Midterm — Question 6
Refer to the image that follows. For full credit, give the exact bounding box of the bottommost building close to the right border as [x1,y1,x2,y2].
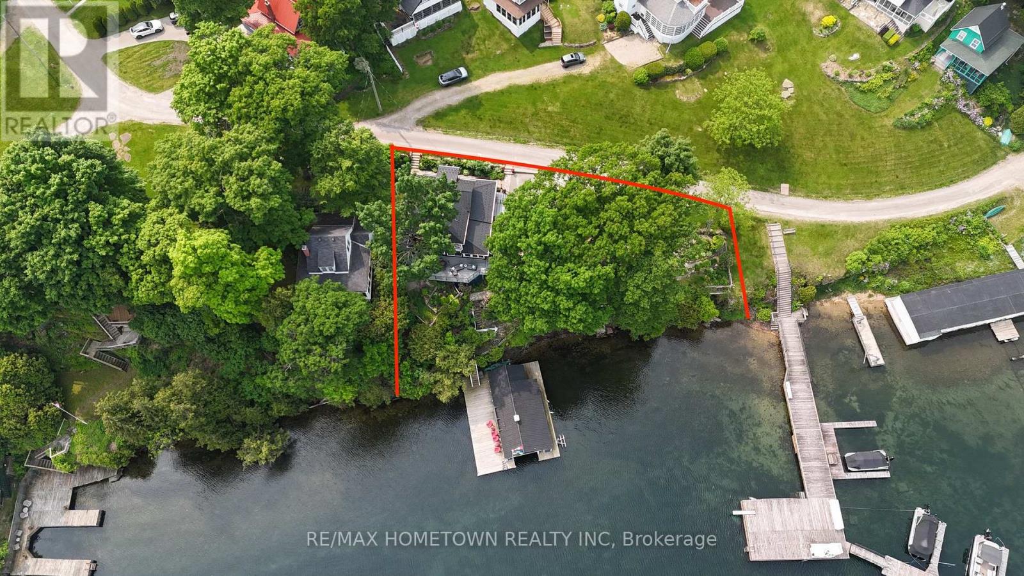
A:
[879,265,1024,349]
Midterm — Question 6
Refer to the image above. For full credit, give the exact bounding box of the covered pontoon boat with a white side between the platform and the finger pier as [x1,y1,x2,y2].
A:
[905,506,943,568]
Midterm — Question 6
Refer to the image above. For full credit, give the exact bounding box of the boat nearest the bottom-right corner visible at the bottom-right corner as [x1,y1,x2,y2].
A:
[965,535,1010,576]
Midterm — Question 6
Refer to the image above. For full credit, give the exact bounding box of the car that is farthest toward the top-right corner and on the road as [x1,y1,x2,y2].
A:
[559,51,587,69]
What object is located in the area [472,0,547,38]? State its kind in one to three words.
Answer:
house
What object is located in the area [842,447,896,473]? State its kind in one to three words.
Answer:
boat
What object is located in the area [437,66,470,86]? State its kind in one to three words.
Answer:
car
